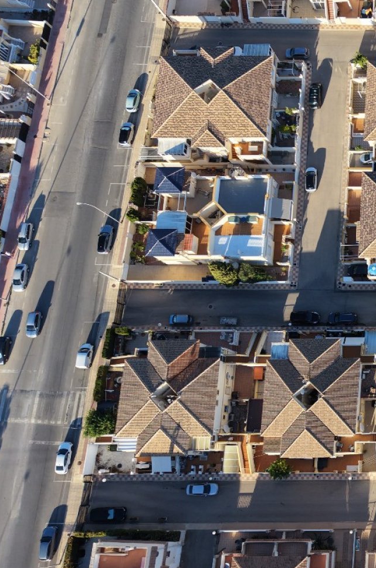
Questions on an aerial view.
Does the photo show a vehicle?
Yes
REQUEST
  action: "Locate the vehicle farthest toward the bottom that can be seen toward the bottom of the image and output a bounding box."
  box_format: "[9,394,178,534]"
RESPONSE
[37,526,59,561]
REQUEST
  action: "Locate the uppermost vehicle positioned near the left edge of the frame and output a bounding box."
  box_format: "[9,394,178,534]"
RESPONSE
[14,221,36,251]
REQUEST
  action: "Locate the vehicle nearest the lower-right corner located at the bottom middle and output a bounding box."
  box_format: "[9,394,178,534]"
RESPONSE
[185,481,220,496]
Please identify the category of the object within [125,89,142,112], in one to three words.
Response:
car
